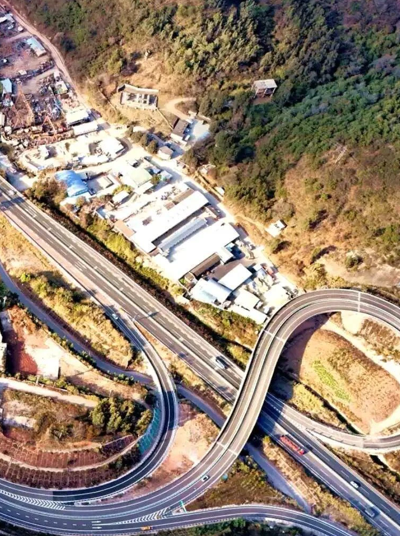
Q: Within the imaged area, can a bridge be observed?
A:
Yes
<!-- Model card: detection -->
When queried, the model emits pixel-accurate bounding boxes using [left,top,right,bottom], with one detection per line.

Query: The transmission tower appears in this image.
[331,146,349,167]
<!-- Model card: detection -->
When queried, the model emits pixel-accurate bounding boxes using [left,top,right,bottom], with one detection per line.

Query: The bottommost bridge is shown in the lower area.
[292,510,333,536]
